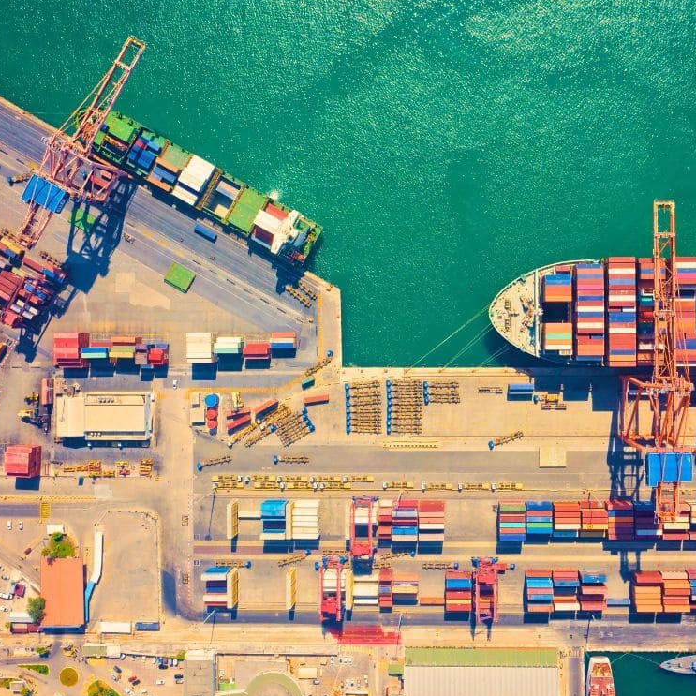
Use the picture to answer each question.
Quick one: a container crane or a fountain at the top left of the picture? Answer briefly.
container crane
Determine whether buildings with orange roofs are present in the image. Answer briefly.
Yes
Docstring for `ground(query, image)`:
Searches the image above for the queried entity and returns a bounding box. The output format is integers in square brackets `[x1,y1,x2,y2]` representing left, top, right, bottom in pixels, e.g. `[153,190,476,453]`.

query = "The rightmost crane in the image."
[610,198,696,524]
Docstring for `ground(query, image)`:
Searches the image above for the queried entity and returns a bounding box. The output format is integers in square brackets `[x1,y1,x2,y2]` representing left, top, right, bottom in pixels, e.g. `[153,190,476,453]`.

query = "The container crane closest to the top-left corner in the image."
[13,36,151,248]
